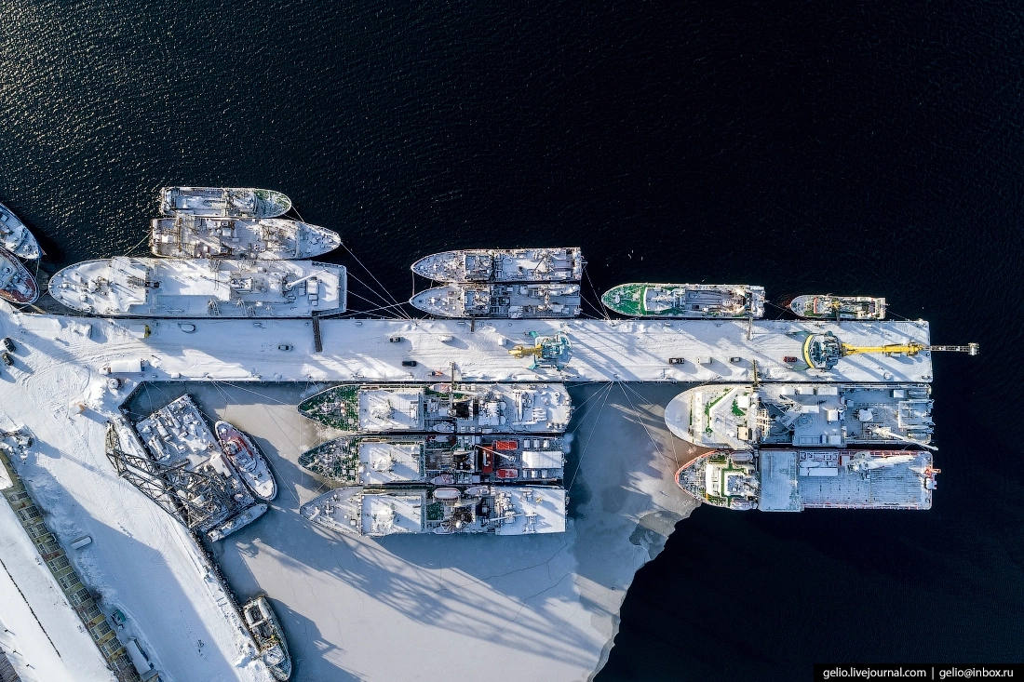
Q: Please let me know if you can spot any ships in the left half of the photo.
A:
Yes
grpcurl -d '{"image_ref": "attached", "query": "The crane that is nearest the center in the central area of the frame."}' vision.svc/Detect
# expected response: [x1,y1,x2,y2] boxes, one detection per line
[507,331,572,369]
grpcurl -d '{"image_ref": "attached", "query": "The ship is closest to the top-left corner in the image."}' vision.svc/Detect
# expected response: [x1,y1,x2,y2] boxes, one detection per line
[0,197,51,264]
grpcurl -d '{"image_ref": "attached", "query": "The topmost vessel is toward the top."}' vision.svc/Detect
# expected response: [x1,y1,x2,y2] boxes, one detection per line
[160,186,292,220]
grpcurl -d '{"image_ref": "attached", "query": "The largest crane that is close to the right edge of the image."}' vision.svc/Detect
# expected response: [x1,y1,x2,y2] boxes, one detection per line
[788,330,978,373]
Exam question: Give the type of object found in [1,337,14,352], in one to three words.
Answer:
vehicle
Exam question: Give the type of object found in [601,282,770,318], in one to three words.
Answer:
boat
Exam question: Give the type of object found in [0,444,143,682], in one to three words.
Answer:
warehouse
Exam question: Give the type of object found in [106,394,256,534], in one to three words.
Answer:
crane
